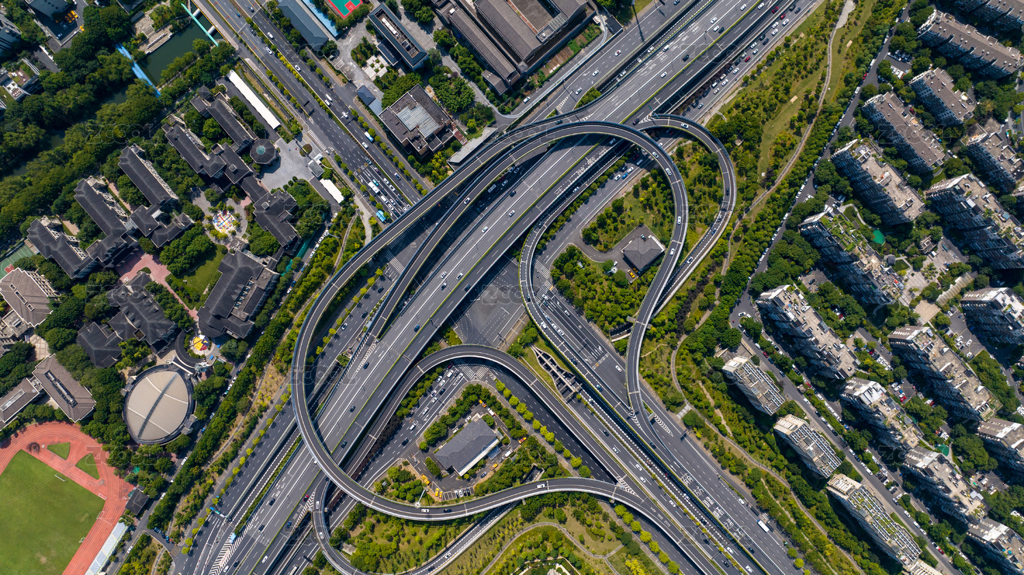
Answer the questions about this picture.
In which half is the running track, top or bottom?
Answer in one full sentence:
It is in the bottom half that the running track appears.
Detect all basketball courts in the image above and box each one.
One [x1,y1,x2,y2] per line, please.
[332,0,363,18]
[0,242,35,279]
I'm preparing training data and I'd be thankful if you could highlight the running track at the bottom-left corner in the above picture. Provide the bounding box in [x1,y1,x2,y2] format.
[0,419,135,575]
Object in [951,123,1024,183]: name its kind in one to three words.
building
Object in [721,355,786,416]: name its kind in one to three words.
building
